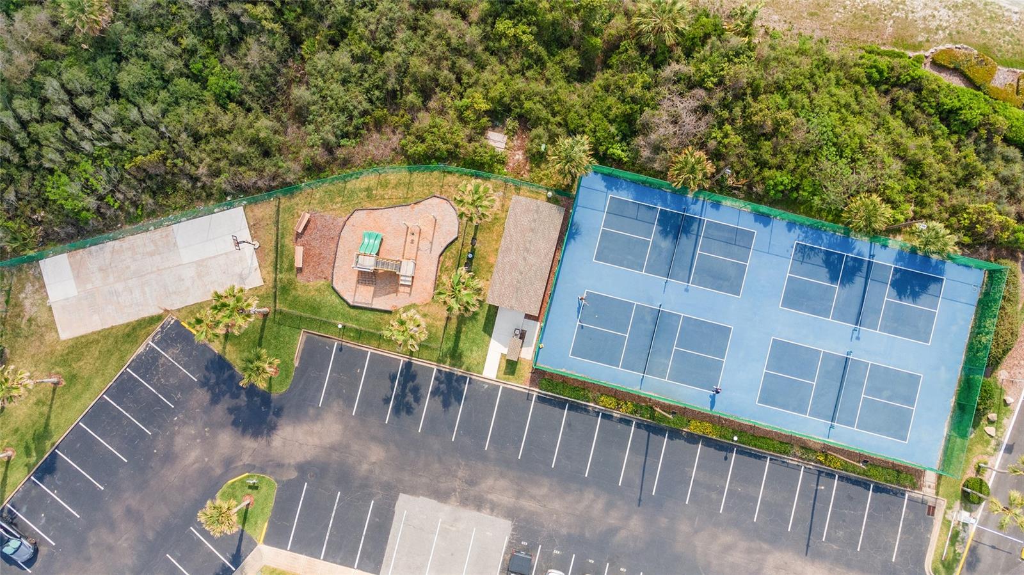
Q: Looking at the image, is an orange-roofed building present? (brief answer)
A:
No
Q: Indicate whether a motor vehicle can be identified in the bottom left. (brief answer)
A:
Yes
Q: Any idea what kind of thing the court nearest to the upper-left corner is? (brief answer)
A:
basketball court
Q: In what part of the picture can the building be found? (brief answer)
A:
center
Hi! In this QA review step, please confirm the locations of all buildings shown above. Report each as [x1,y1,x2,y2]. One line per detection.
[485,195,564,316]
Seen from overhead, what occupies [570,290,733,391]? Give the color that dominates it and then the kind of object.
blue sports court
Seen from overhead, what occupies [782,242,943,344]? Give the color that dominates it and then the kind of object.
blue sports court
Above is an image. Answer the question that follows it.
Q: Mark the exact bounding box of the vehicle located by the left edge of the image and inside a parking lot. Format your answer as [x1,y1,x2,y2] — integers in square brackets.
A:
[0,519,35,565]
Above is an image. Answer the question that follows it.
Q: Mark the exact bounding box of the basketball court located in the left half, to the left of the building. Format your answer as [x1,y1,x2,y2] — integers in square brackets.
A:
[39,206,263,340]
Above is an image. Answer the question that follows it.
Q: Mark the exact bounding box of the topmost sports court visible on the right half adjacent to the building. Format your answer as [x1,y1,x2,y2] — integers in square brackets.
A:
[594,196,755,297]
